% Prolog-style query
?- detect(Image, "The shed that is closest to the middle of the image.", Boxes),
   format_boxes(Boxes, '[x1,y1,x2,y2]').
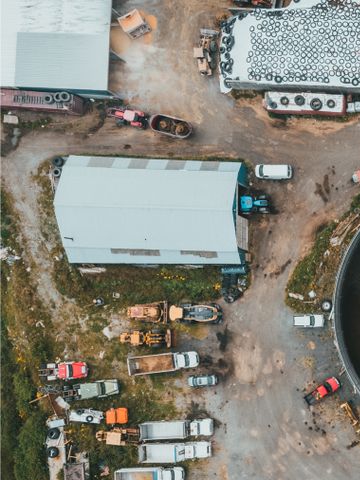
[54,155,251,267]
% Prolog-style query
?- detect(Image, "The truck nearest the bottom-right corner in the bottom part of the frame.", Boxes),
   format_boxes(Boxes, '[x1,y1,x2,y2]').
[303,374,343,406]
